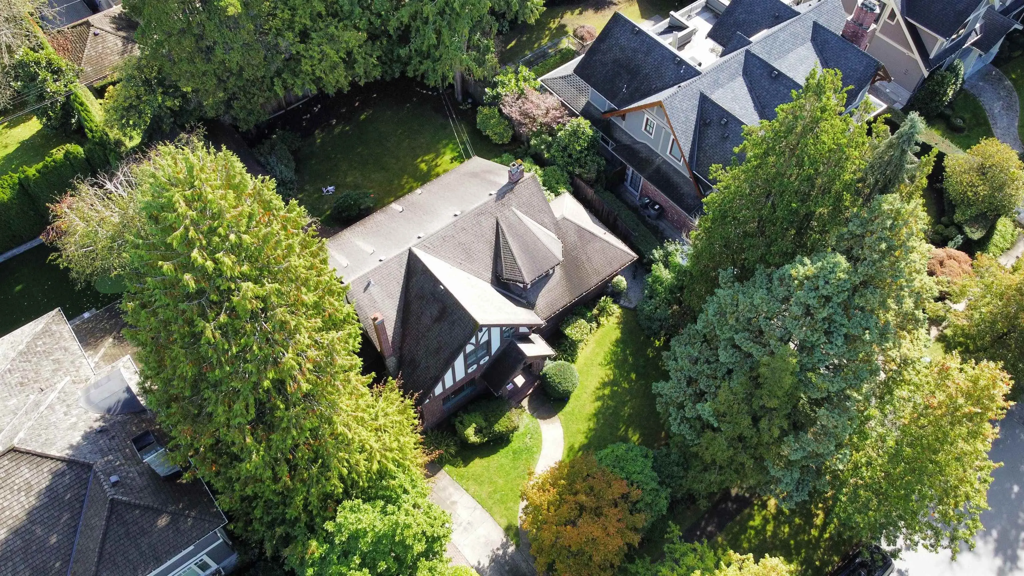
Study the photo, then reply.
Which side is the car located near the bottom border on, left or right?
right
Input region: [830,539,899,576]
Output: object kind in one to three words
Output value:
car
